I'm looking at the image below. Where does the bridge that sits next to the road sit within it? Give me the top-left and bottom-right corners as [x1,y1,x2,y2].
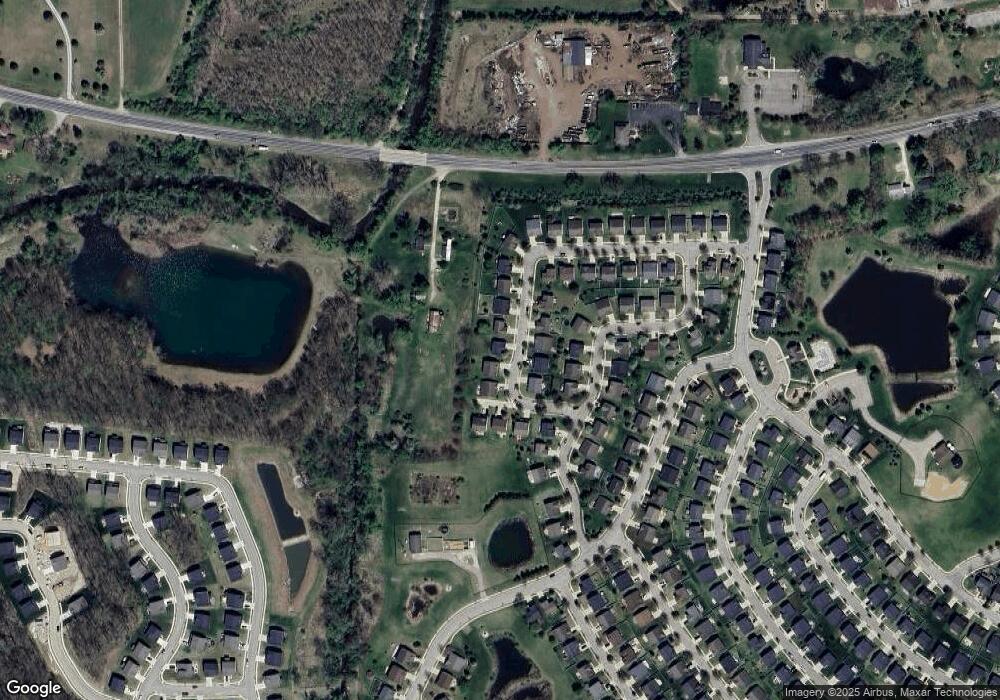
[380,145,428,169]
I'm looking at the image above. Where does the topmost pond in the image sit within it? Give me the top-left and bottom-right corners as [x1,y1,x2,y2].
[815,58,887,99]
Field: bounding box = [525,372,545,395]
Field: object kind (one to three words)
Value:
house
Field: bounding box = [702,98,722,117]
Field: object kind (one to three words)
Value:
house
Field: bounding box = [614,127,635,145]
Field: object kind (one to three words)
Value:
building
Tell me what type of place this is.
residential area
